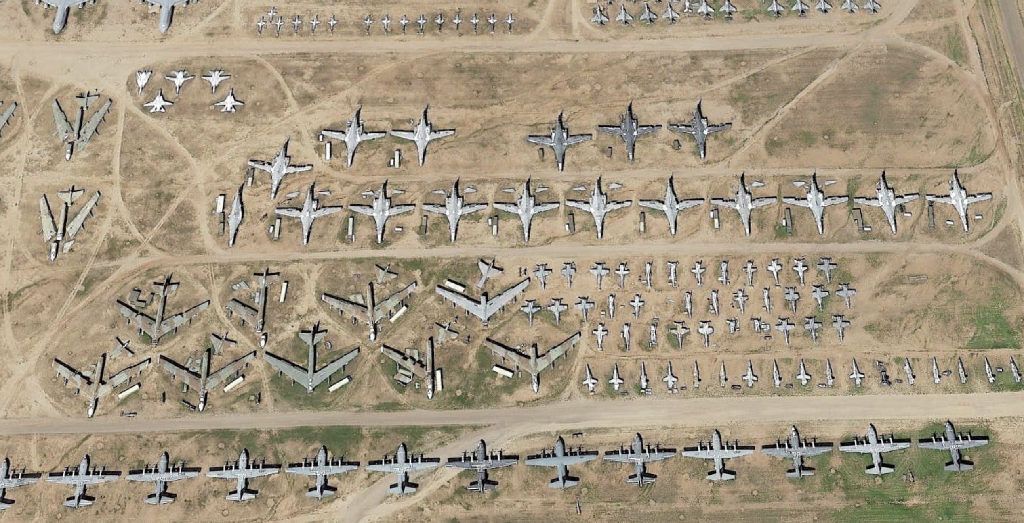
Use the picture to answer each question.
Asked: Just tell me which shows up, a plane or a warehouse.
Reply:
plane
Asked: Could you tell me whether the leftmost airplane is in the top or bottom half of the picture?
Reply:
bottom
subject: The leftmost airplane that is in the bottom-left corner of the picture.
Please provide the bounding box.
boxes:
[0,464,38,514]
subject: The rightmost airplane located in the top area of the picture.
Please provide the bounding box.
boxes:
[928,167,993,232]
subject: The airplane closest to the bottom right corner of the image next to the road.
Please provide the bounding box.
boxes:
[917,427,990,477]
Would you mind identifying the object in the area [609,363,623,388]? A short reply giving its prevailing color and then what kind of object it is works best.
white airplane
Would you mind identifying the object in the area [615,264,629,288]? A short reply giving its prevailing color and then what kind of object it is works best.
white airplane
